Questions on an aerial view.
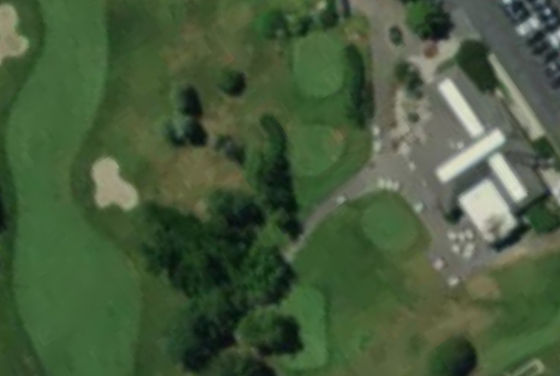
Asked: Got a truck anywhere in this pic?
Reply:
No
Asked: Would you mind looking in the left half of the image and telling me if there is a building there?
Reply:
No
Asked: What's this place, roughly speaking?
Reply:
golf course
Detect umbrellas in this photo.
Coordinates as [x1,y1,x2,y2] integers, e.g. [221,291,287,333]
[447,230,456,240]
[456,232,466,242]
[465,242,475,251]
[465,230,474,239]
[461,249,471,259]
[451,244,460,253]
